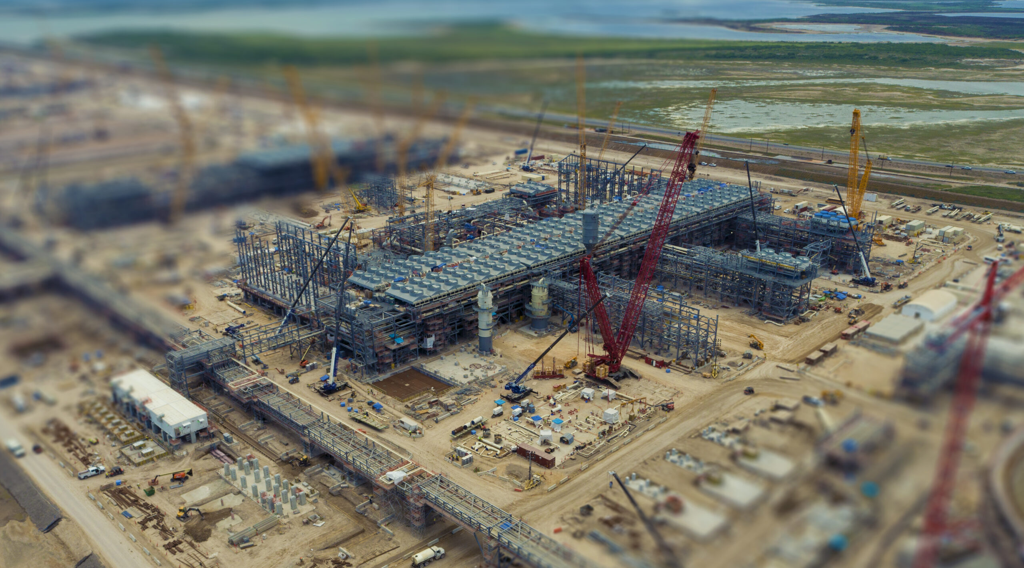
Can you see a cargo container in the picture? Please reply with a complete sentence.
Yes, there's a cargo container here.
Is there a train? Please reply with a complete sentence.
Yes, there's a train here.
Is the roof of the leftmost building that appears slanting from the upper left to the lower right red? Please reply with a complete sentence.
No, the roof of the leftmost building that appears slanting from the upper left to the lower right is actually white.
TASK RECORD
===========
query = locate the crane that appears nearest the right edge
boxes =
[925,269,1024,568]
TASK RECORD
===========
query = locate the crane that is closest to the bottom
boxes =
[607,470,706,568]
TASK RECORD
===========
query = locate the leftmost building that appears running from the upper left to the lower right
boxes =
[112,370,213,453]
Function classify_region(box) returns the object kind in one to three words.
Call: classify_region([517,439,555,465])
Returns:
shipping container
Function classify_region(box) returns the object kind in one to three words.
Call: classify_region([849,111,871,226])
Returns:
crane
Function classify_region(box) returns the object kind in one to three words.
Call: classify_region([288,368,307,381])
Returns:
vehicle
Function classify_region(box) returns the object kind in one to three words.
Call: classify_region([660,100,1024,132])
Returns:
pond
